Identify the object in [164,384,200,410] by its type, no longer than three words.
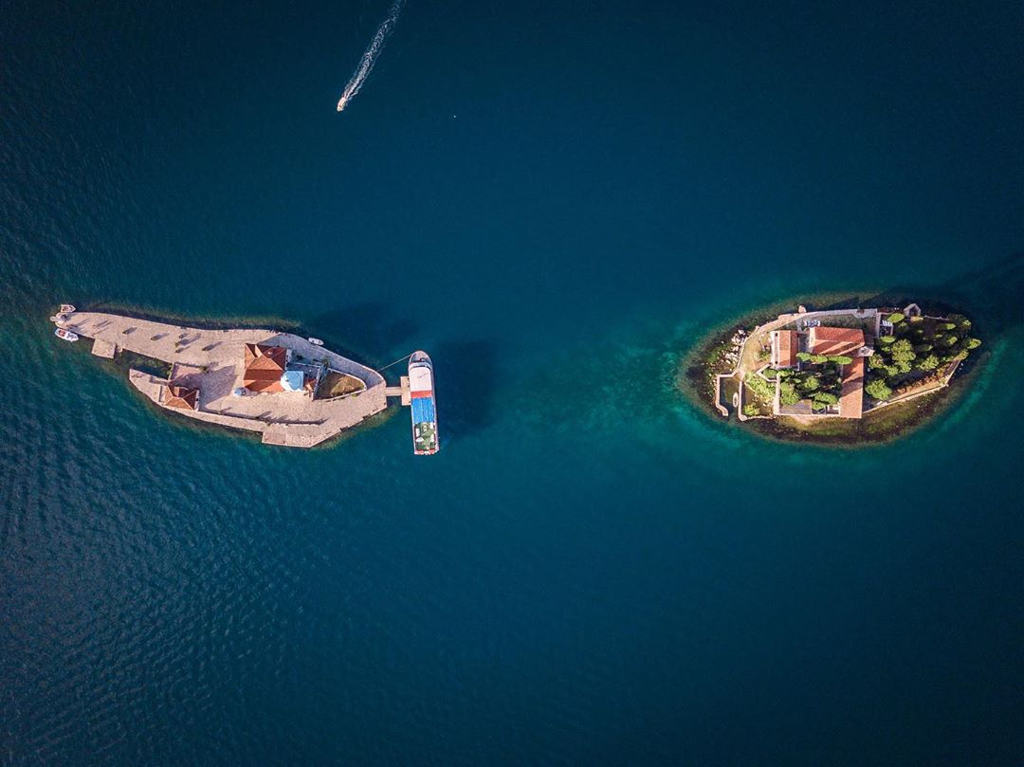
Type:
house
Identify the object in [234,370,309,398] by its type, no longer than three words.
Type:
building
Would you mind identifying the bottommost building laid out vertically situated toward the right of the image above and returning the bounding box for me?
[837,357,863,418]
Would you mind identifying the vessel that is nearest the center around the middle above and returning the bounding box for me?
[409,351,439,456]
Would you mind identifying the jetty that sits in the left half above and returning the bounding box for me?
[387,376,411,405]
